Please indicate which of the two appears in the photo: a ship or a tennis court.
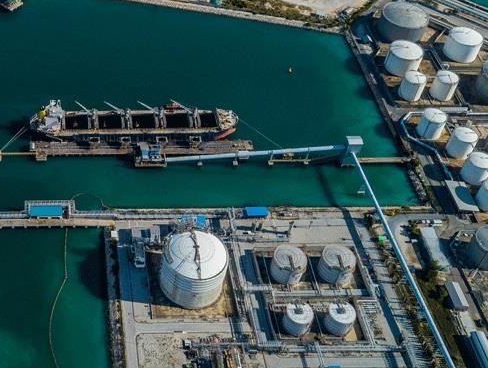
ship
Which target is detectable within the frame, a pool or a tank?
tank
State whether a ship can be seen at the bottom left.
No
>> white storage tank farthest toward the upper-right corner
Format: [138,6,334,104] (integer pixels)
[441,24,484,63]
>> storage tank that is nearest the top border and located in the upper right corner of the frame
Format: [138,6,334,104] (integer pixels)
[377,1,429,43]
